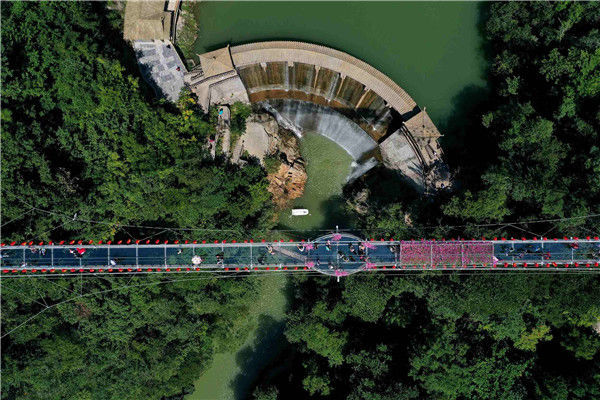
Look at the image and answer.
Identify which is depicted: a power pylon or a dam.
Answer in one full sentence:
Looking from above, you can make out a dam.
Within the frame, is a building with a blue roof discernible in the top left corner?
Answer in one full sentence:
No, the scene shows no building with a blue roof in the top left corner.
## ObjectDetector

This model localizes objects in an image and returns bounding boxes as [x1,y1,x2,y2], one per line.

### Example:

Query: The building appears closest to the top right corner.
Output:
[401,106,447,151]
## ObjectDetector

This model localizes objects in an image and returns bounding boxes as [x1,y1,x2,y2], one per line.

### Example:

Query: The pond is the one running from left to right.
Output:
[189,0,490,152]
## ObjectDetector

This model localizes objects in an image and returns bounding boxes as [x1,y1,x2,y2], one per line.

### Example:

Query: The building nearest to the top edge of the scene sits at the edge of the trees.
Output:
[121,0,173,40]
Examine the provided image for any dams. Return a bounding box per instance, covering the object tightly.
[235,61,402,161]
